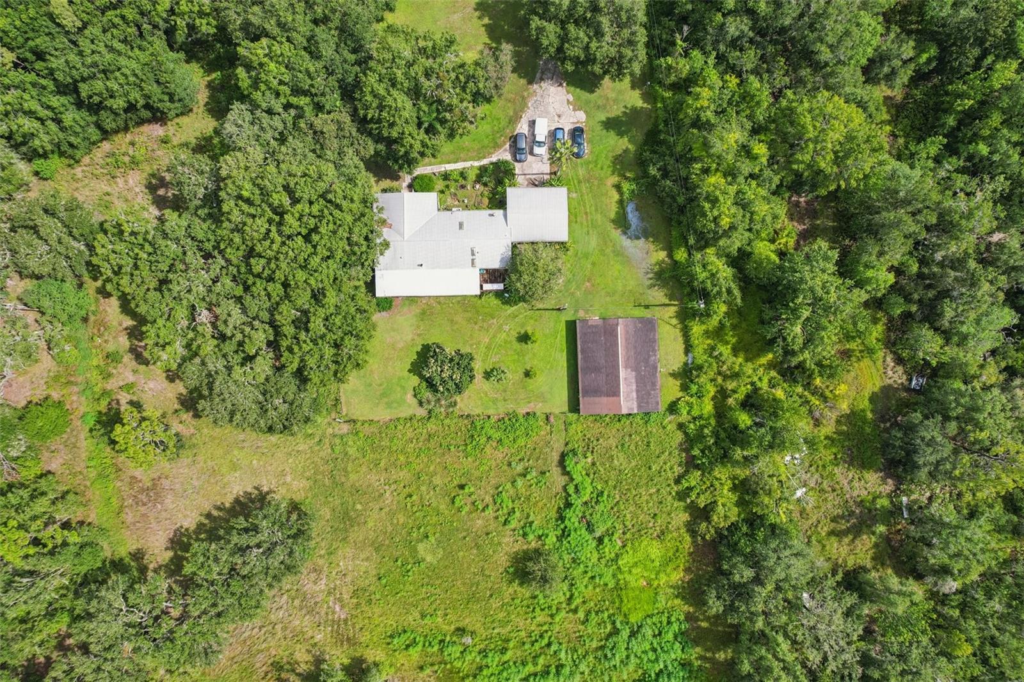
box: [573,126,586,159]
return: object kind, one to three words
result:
vehicle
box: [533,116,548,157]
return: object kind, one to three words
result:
vehicle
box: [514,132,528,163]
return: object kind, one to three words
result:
car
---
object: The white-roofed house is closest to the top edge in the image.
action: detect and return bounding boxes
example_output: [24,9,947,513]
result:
[375,185,568,297]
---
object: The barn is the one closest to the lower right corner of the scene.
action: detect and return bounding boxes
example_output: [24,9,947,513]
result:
[577,317,660,414]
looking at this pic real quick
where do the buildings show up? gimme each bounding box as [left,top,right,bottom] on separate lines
[375,185,568,297]
[577,317,660,414]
